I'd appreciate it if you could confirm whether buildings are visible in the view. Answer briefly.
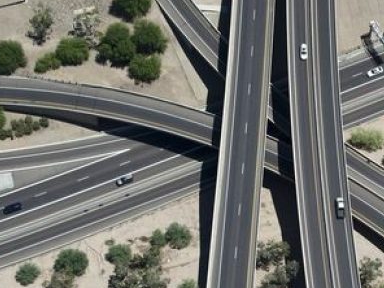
No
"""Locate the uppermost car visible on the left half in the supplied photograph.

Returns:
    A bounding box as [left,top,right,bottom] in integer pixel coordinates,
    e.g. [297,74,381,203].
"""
[115,174,134,186]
